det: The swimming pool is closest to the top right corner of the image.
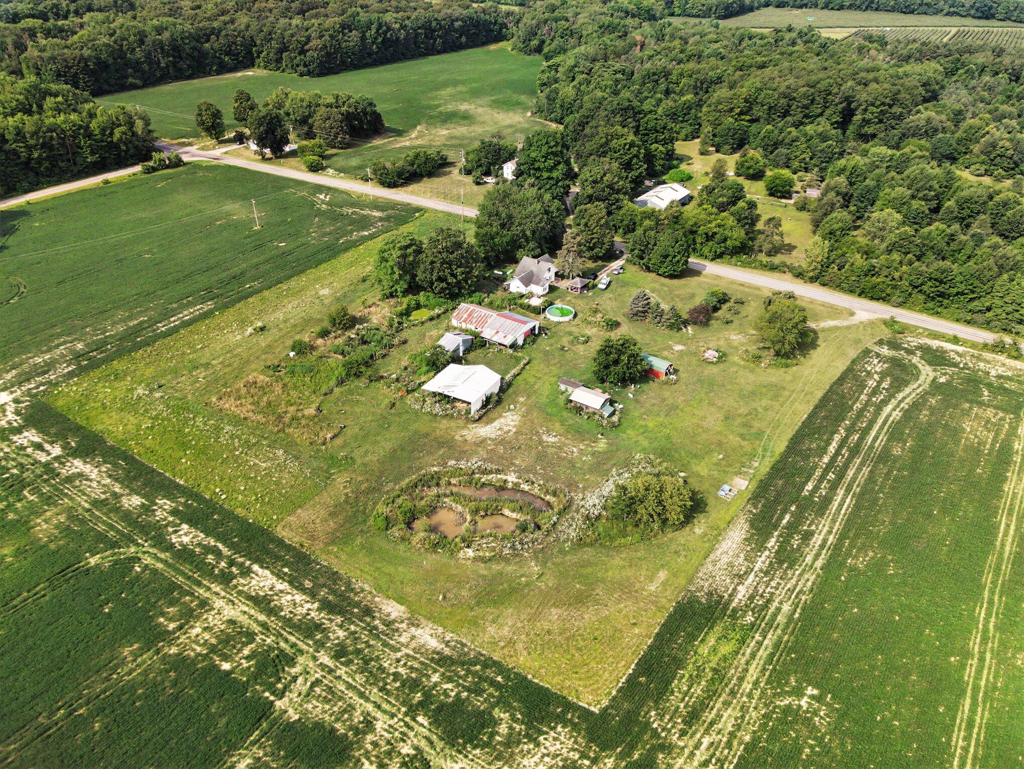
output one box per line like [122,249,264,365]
[546,303,574,322]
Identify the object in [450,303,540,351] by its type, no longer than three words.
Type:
barn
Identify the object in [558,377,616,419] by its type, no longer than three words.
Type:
shed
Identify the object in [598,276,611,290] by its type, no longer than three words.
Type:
vehicle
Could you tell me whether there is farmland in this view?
Yes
